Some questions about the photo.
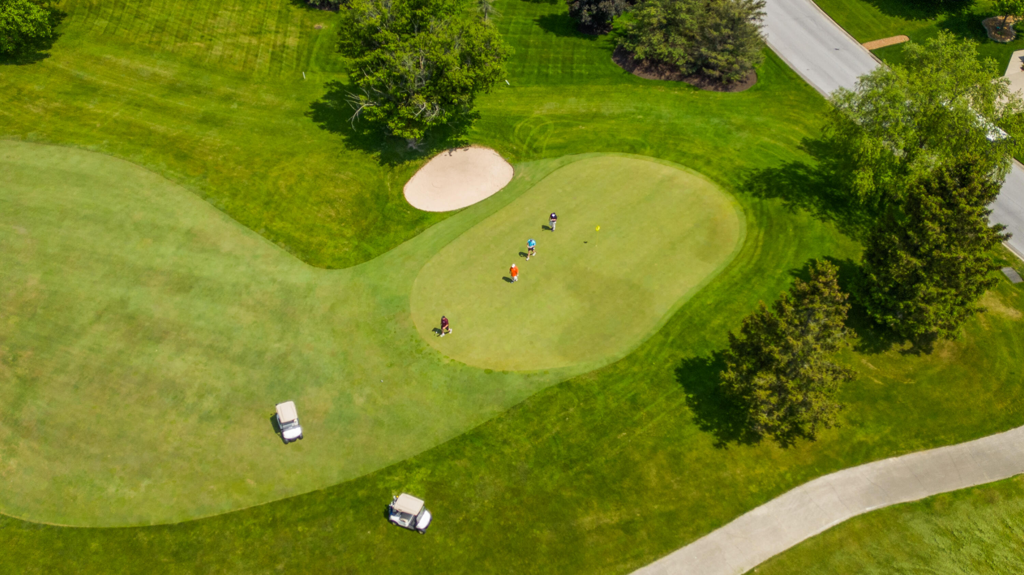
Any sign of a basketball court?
No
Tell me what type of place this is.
golf course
